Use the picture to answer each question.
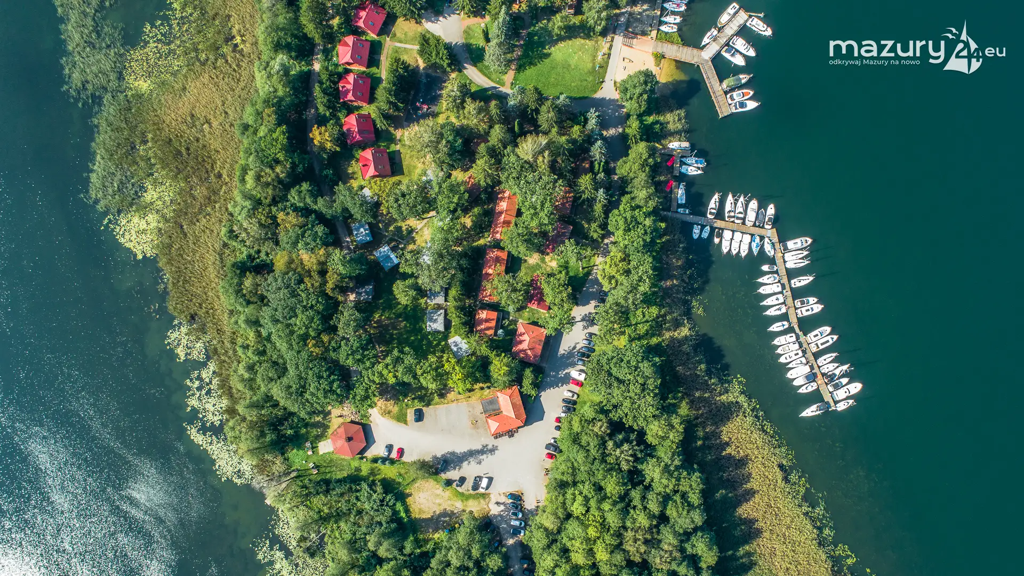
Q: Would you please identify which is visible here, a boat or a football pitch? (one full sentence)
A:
Looking from above, you can make out a boat.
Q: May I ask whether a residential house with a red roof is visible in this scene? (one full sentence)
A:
Yes, there is a residential house with a red roof in the image.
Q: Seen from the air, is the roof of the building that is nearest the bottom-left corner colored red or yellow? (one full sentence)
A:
From above, the roof of the building that is nearest the bottom-left corner appears red.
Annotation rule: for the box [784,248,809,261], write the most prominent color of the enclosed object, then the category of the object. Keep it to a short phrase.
white boat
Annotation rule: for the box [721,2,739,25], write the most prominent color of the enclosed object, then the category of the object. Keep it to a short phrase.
white boat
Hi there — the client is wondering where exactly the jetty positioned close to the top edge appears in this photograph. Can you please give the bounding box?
[652,7,764,118]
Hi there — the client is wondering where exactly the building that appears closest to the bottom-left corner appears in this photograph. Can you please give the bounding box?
[330,422,367,457]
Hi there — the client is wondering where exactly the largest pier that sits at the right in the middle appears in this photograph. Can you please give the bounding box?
[657,181,836,412]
